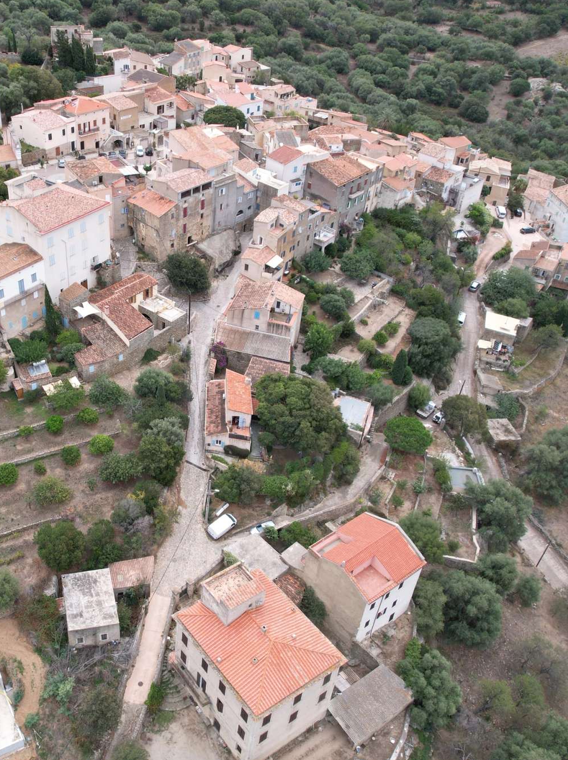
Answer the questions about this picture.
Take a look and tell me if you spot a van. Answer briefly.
Yes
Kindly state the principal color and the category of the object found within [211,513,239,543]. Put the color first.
white van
